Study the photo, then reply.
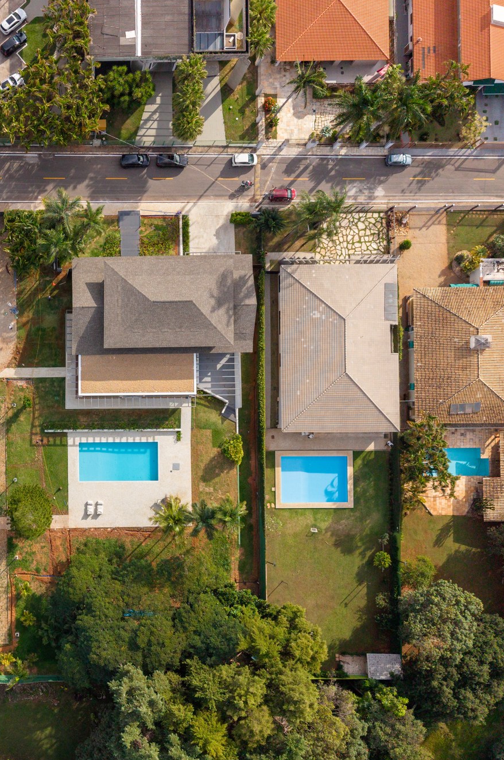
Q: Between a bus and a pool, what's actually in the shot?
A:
pool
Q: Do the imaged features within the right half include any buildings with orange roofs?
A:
Yes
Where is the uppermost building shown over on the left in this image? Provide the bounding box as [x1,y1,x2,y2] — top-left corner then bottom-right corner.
[86,0,250,93]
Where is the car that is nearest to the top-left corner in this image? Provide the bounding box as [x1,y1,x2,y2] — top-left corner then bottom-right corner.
[0,9,29,33]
